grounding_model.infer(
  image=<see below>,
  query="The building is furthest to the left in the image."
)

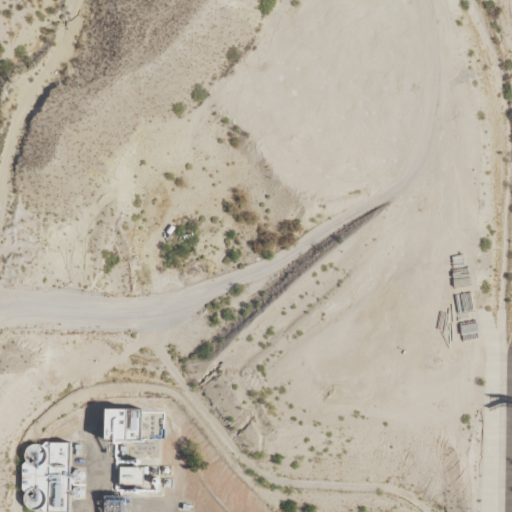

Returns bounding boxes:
[22,440,73,512]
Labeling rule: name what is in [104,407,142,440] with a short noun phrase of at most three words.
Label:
building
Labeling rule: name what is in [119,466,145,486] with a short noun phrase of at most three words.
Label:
building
